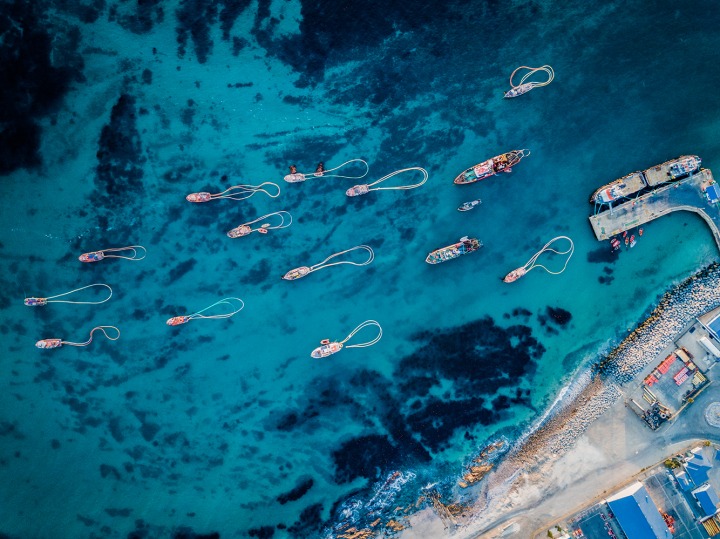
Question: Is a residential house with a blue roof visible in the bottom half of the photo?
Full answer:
Yes, there is a residential house with a blue roof in the bottom half of the photo.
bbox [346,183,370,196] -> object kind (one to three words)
boat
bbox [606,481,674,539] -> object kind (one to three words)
building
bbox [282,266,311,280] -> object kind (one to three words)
boat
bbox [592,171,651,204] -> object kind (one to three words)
ship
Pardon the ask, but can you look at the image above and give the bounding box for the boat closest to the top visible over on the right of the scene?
[505,82,536,98]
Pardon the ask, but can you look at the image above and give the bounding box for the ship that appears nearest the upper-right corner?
[646,155,707,186]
